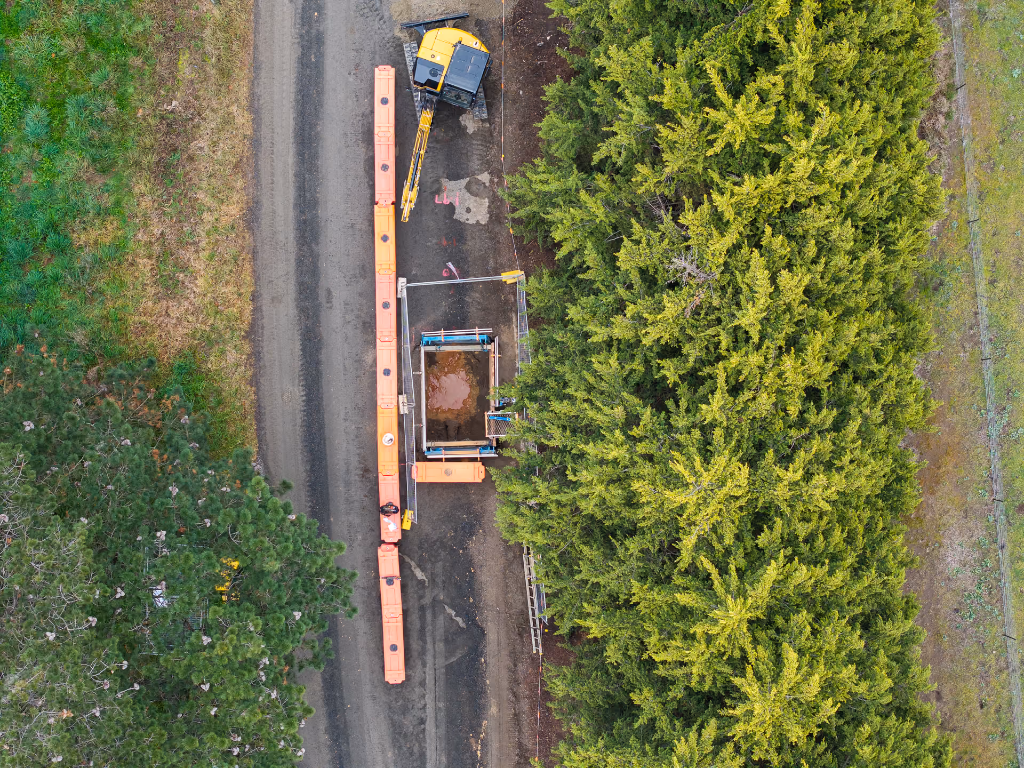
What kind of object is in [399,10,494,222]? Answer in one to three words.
work vehicle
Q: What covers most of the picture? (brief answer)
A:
trees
